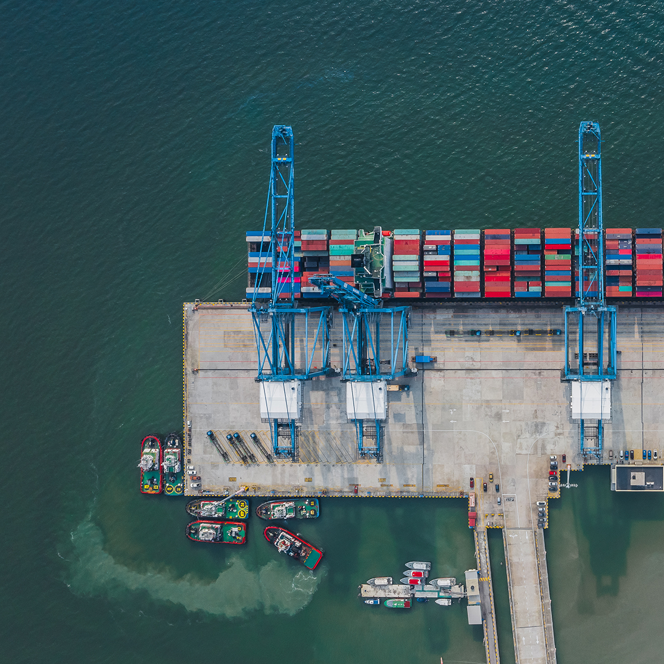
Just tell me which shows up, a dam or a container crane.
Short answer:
container crane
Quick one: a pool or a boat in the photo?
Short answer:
boat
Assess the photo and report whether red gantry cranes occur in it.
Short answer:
No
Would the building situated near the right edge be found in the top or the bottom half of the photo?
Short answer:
bottom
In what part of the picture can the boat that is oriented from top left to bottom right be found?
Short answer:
bottom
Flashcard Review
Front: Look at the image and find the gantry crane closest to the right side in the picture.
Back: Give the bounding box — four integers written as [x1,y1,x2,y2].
[557,123,620,458]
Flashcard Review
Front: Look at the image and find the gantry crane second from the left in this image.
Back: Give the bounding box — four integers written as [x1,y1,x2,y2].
[308,273,417,458]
